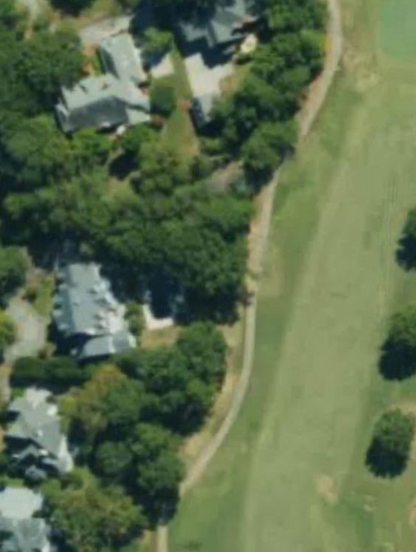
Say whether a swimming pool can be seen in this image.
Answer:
No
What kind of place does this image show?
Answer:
golf course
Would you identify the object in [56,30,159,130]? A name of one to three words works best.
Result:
house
